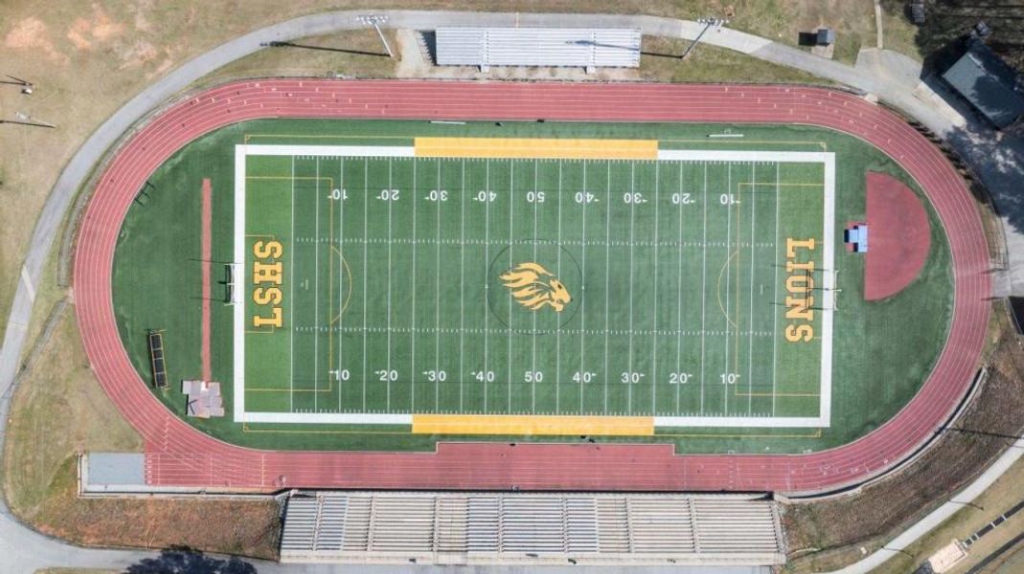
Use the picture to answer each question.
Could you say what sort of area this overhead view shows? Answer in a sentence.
This image shows a sports ground.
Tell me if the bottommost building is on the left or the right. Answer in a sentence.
The bottommost building sits on the right side.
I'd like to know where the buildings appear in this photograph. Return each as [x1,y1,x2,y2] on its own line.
[941,38,1024,127]
[812,28,830,46]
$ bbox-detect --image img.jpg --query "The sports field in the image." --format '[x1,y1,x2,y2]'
[113,116,954,456]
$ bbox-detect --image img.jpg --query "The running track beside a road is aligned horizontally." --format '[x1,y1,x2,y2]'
[74,77,993,494]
